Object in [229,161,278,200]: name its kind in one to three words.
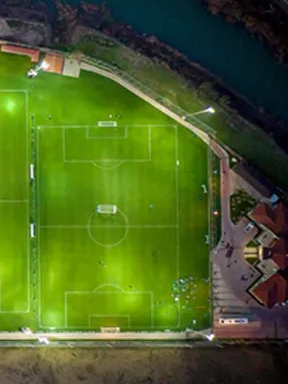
shed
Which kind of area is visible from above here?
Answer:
sports ground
